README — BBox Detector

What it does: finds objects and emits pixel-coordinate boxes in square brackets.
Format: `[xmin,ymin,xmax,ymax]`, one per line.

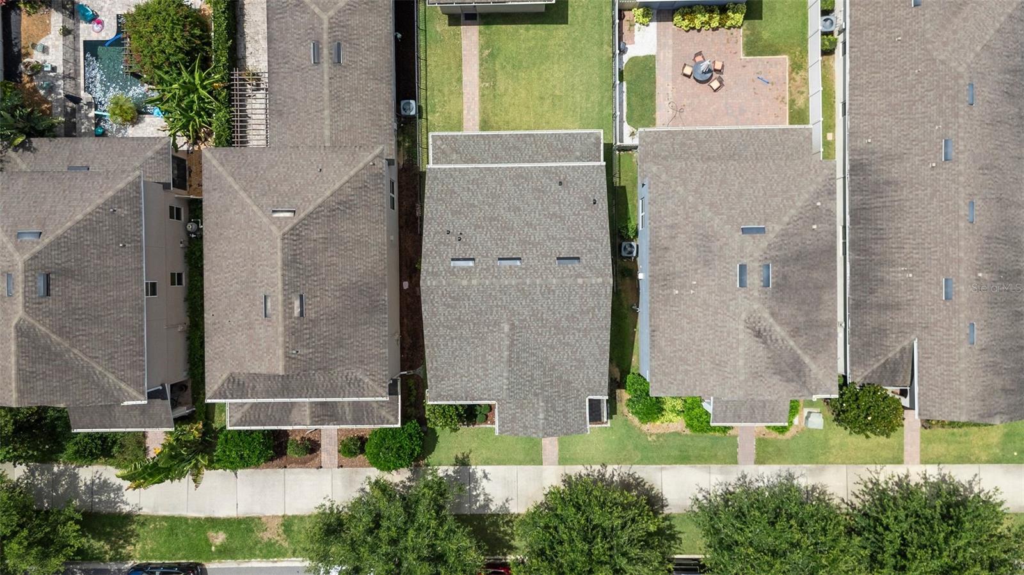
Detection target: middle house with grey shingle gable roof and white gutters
[421,130,612,438]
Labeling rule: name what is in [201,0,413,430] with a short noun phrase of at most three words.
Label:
house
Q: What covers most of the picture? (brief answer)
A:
buildings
